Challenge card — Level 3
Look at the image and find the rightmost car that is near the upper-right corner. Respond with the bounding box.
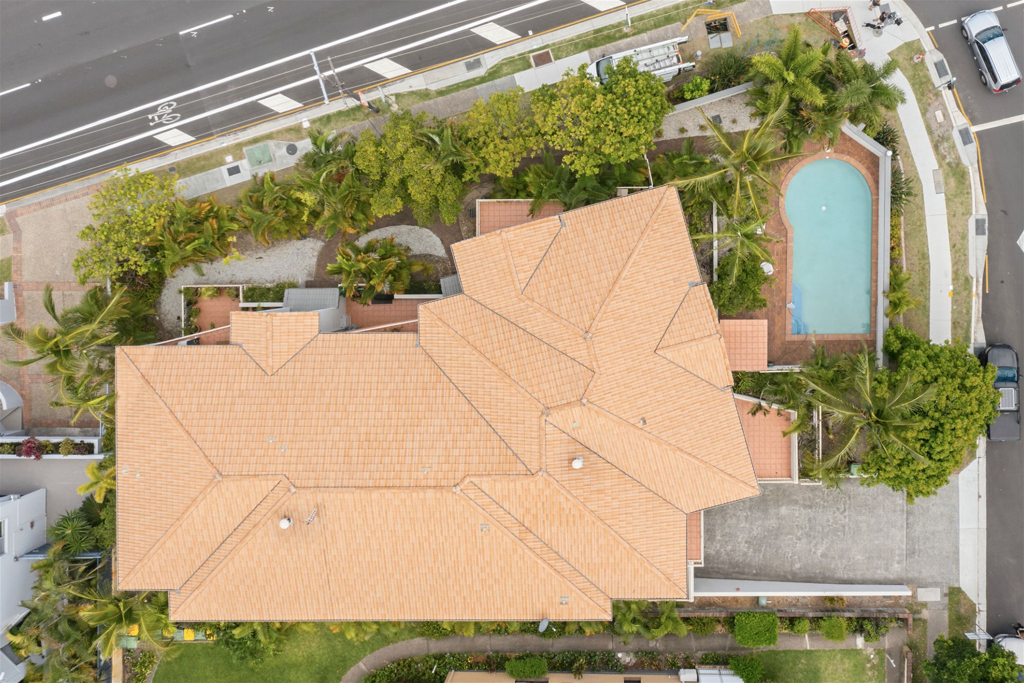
[958,5,1024,100]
